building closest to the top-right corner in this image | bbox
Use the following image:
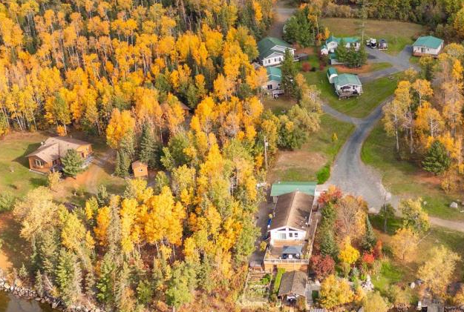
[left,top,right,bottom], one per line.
[411,35,444,60]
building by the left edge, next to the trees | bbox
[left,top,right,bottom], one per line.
[22,137,103,181]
